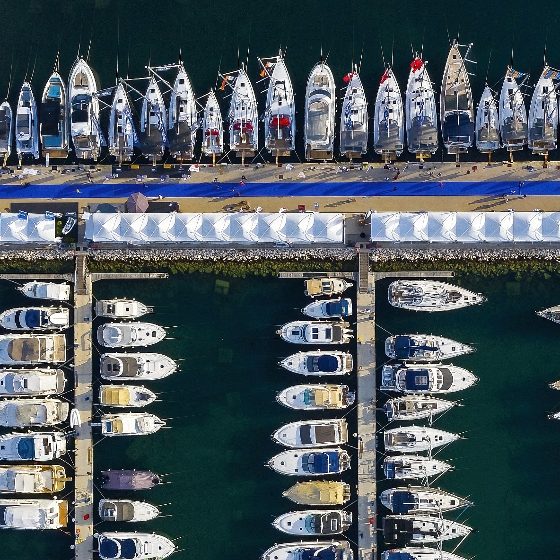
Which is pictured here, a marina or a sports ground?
marina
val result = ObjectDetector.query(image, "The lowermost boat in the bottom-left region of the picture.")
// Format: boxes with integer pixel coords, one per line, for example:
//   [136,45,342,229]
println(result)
[95,530,188,560]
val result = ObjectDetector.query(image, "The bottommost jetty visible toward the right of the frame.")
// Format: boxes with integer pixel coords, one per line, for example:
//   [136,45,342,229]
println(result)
[277,271,454,560]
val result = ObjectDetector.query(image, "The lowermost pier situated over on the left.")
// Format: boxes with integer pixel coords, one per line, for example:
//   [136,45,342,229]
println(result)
[0,272,169,560]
